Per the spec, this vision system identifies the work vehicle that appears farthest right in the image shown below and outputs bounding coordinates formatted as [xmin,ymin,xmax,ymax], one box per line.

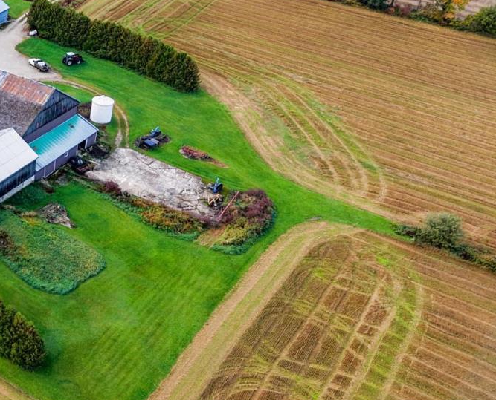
[210,176,223,192]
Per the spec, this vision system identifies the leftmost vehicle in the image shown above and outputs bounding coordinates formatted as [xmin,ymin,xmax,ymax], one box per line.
[27,57,52,71]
